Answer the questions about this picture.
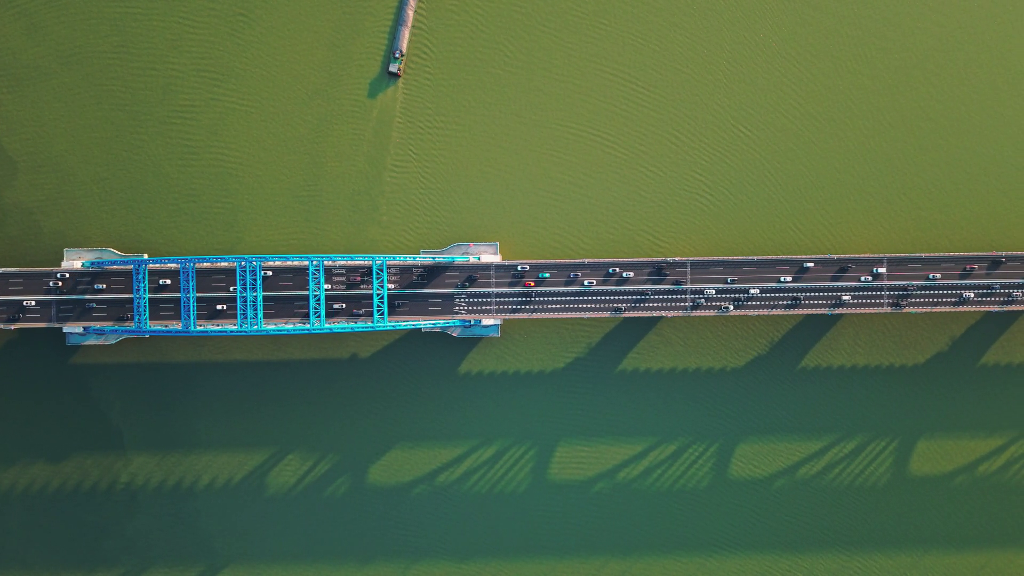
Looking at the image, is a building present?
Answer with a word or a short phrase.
No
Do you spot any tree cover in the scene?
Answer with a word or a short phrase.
No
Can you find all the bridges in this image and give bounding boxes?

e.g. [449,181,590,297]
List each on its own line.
[0,242,1024,344]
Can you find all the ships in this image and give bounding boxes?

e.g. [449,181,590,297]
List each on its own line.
[387,0,418,77]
